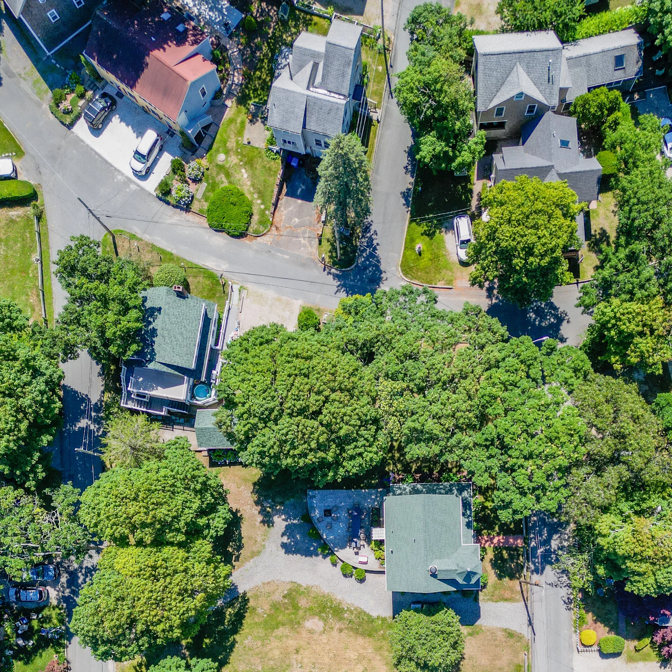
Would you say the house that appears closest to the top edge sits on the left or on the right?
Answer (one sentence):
The house that appears closest to the top edge sits on the left side.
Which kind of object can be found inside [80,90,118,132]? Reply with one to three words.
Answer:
car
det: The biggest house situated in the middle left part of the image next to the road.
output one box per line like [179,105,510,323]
[117,272,231,417]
